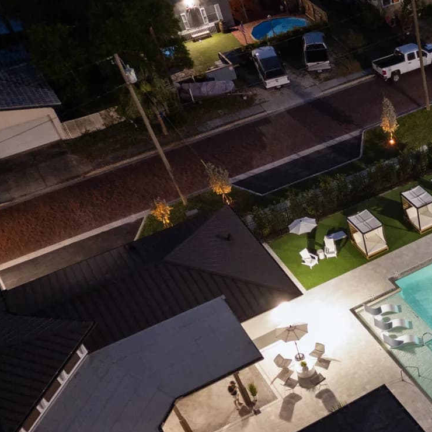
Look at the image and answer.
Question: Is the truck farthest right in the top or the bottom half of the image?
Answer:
top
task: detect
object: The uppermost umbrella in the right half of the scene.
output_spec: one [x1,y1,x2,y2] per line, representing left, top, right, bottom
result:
[285,223,316,262]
